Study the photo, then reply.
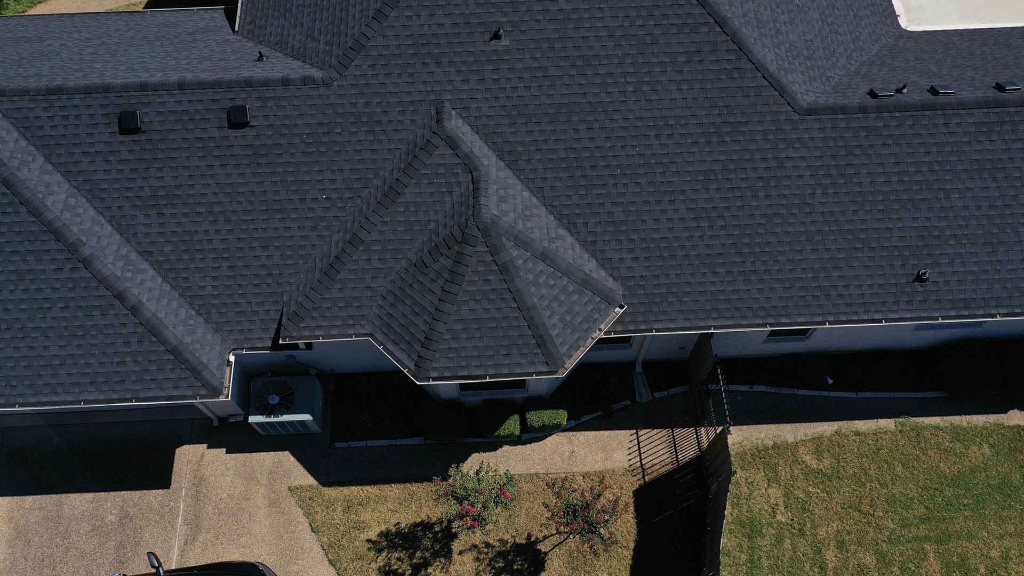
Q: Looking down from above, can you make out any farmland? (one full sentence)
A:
No, no farmland is visible.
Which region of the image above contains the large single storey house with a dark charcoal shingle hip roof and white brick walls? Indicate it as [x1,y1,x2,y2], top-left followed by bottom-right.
[0,0,1024,430]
